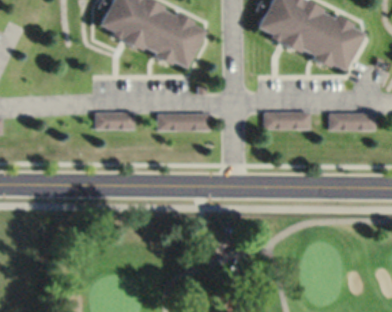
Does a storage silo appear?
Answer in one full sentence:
No, the scene contains no storage silo.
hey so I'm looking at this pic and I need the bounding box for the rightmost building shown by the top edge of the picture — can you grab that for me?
[258,0,364,75]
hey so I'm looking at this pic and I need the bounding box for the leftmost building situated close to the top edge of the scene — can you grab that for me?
[102,0,208,70]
